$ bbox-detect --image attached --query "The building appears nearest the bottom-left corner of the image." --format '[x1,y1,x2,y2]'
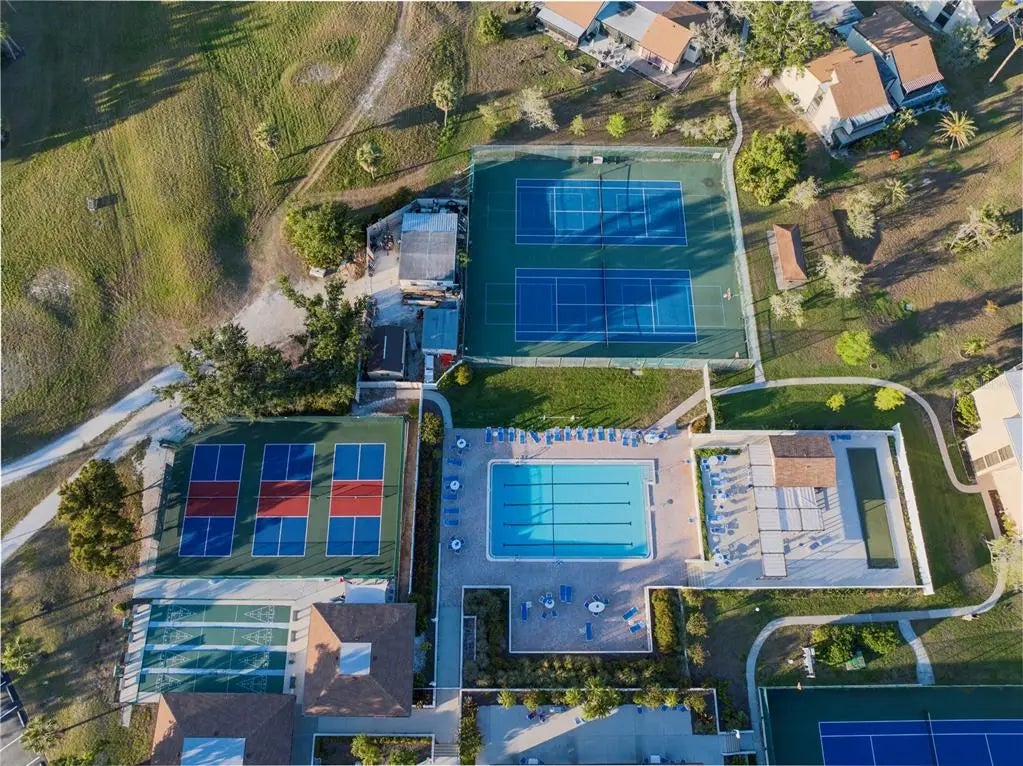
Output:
[149,692,297,766]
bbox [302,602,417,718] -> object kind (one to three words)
building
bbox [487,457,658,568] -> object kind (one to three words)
swimming pool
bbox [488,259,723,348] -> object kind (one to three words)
tennis court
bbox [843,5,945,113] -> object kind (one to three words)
house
